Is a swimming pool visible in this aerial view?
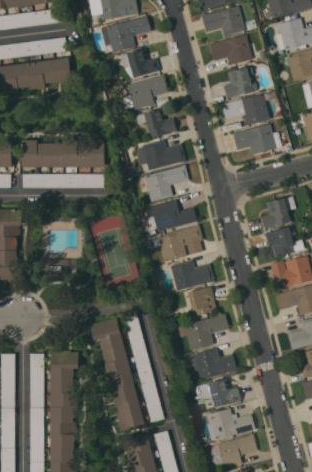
Yes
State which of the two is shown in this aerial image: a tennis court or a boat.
tennis court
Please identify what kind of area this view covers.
residential area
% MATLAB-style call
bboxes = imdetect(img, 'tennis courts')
[91,216,138,288]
